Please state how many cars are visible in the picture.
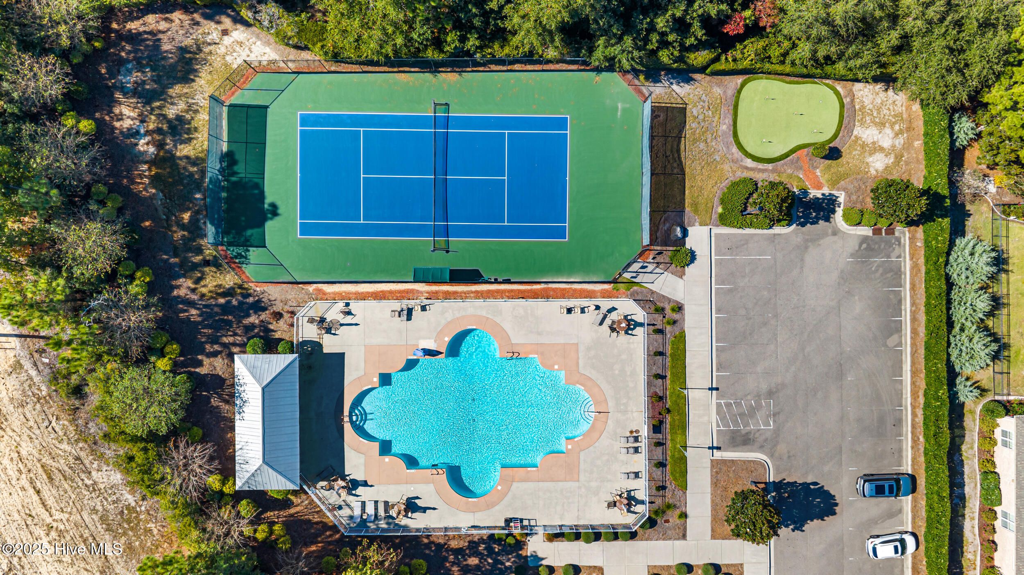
two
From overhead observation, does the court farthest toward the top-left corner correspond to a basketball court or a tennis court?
tennis court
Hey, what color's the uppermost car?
blue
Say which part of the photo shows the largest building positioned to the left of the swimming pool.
bottom left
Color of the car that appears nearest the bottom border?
white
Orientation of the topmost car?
horizontally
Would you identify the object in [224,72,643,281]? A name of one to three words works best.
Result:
tennis court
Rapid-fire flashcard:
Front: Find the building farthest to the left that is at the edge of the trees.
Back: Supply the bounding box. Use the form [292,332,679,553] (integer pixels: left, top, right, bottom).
[234,353,310,491]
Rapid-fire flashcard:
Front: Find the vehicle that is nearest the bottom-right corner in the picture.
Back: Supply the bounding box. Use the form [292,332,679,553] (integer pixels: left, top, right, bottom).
[865,530,918,558]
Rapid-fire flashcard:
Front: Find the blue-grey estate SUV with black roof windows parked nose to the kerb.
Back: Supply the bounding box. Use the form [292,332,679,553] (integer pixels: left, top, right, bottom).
[857,473,915,501]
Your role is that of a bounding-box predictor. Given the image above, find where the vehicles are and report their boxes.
[865,530,918,558]
[857,473,915,501]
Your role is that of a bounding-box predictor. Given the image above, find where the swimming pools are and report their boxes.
[335,314,609,513]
